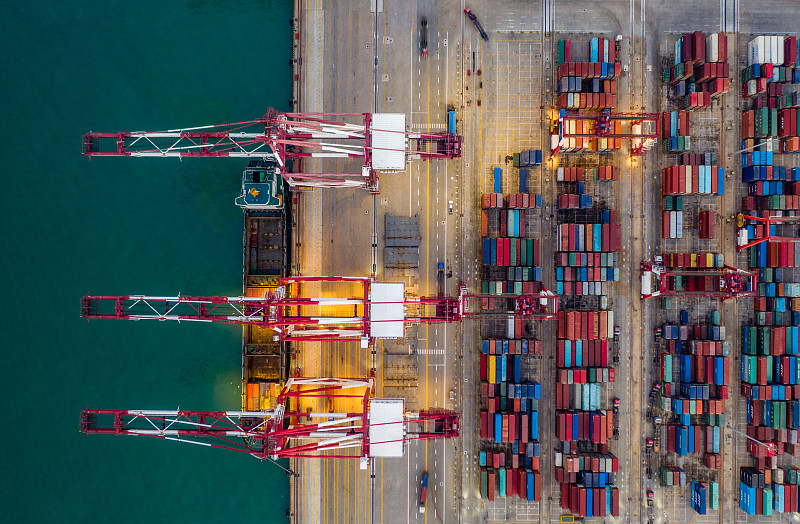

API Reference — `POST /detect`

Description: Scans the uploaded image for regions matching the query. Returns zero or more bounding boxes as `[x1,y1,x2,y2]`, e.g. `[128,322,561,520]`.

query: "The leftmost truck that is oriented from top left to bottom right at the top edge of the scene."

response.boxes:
[465,7,491,40]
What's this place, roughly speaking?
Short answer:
port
